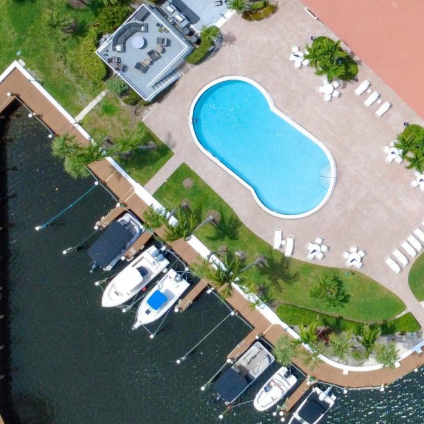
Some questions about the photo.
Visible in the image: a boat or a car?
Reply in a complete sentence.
I can see a boat in this picture.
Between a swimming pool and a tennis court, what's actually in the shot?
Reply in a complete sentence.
Looking from above, you can make out a swimming pool.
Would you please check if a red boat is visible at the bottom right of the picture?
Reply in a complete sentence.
No, no red boat can be made out at the bottom right of the picture.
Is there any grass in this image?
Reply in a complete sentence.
Yes, grass can be seen from above here.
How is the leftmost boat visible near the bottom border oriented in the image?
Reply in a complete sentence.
I'd say the leftmost boat visible near the bottom border is aligned on a diagonal in the picture.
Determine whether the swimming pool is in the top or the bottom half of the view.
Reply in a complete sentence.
The swimming pool sits in the top half of the picture.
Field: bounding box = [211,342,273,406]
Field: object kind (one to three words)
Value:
boat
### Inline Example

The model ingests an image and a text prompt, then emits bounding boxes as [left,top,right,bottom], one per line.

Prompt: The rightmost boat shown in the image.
[288,389,330,424]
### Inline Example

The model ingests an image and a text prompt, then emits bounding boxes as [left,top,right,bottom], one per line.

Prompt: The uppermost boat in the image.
[84,215,144,270]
